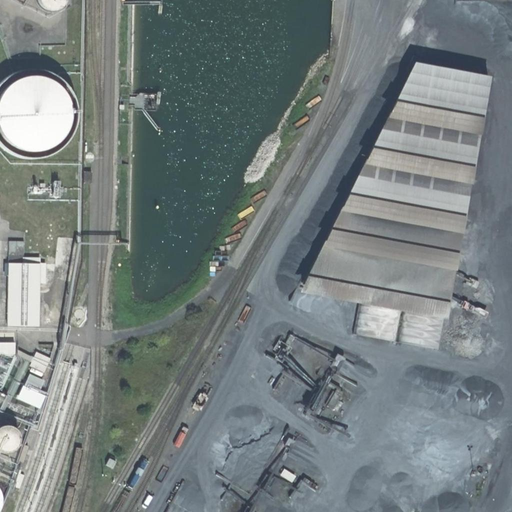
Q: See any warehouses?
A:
Yes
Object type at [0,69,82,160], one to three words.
storage tank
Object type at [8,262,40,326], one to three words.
building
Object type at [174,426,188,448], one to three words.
vehicle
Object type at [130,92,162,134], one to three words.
pier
